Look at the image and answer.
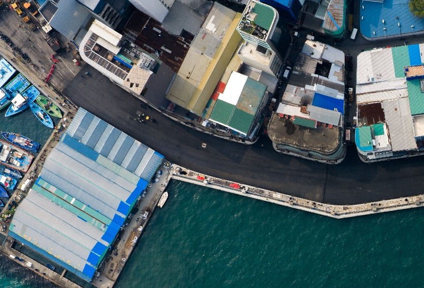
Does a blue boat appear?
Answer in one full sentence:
Yes, there's a blue boat down there.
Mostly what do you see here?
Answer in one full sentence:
Most of the picture is covered by buildings.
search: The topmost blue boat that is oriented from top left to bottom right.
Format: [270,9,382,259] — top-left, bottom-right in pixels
[31,103,53,128]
